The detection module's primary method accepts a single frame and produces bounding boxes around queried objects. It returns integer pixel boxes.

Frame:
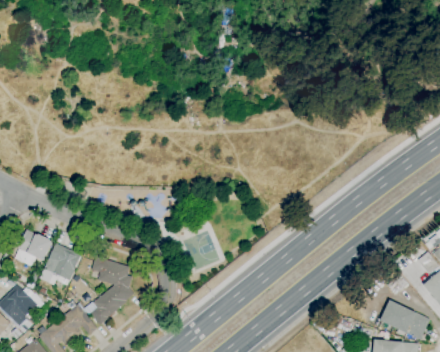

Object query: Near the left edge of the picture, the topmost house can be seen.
[20,230,50,262]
